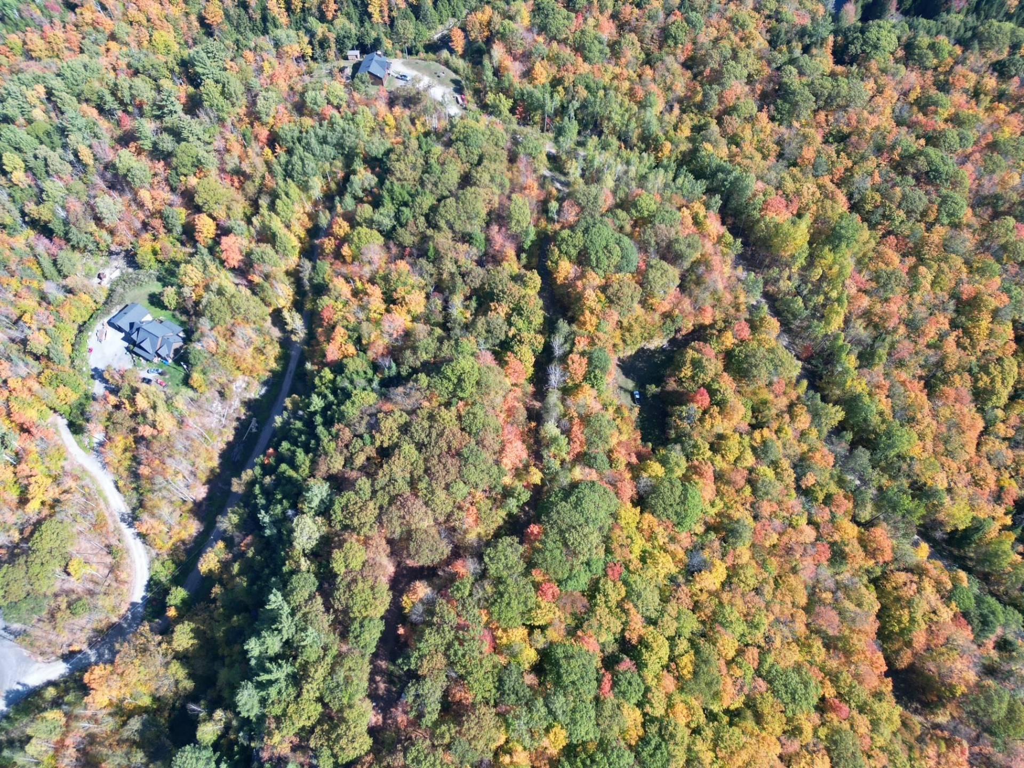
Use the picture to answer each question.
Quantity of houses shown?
2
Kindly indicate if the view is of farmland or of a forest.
forest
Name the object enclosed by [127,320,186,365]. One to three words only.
house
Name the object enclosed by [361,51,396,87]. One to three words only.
house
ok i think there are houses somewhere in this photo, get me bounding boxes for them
[361,51,396,87]
[127,320,186,365]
